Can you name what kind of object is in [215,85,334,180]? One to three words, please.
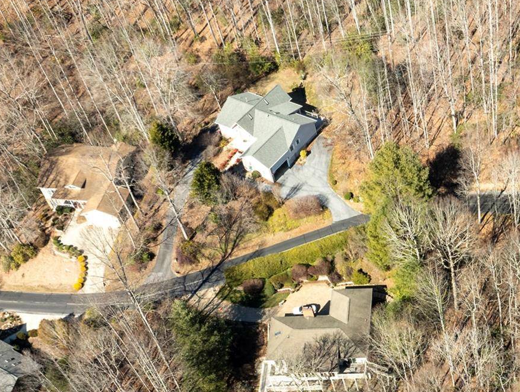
house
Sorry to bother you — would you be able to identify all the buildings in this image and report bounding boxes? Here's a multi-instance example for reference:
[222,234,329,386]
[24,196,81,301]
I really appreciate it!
[215,85,334,180]
[0,341,42,392]
[37,137,134,229]
[258,288,384,392]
